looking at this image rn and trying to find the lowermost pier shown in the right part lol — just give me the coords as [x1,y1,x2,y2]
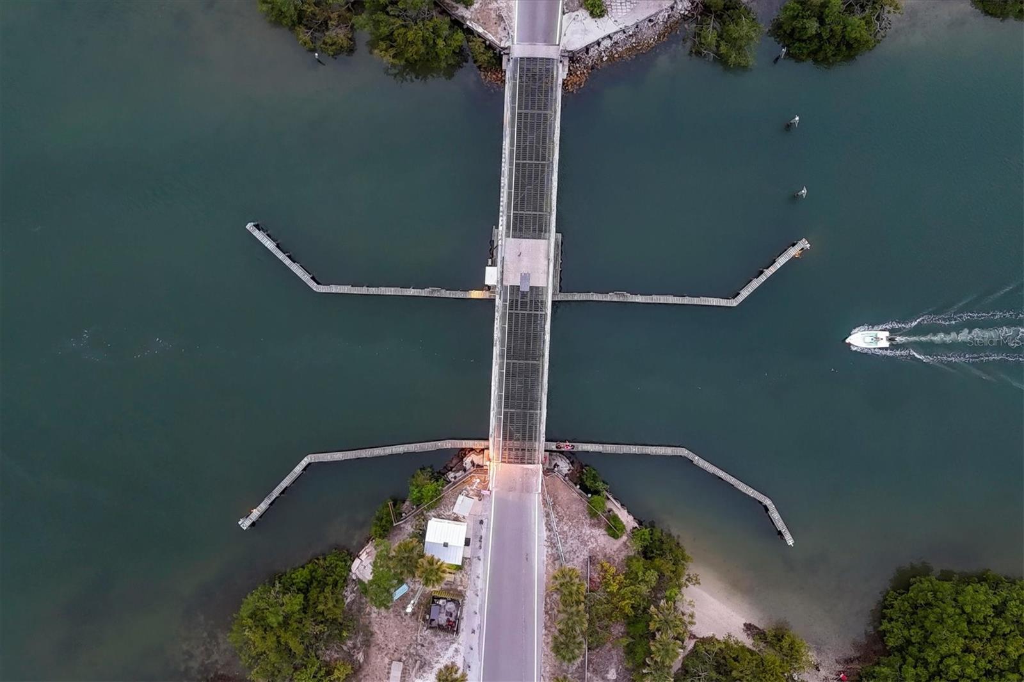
[547,441,794,546]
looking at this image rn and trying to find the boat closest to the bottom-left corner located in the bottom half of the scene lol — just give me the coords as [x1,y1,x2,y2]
[393,584,411,601]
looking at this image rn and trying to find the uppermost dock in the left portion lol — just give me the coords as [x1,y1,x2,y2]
[248,223,494,300]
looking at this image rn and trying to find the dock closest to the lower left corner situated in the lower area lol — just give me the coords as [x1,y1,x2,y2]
[239,438,488,527]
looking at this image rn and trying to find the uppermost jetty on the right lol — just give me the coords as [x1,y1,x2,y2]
[554,240,808,306]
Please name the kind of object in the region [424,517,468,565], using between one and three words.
house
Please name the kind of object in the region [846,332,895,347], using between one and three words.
boat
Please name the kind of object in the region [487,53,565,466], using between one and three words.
bridge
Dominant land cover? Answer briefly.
water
